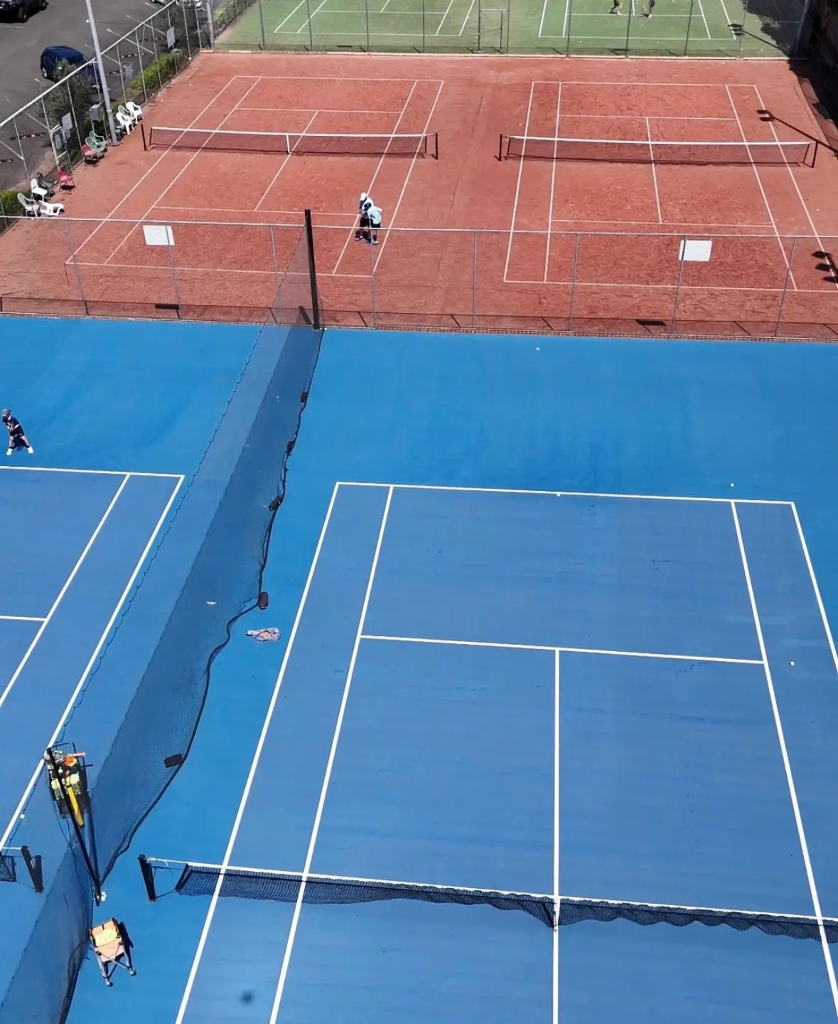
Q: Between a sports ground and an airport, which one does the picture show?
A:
sports ground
